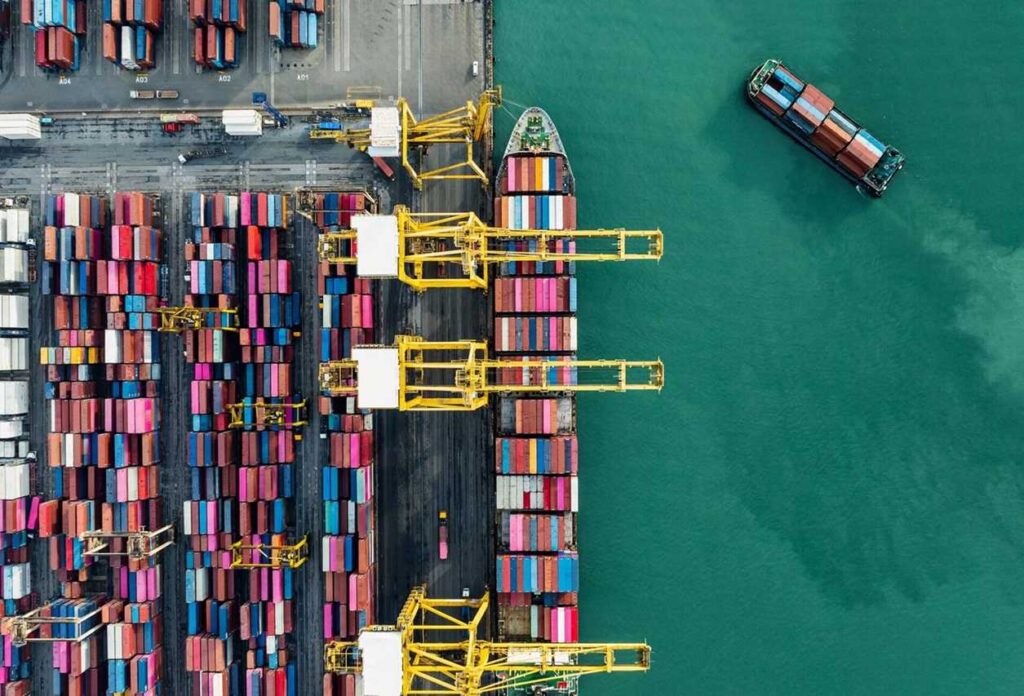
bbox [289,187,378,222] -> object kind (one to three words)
container crane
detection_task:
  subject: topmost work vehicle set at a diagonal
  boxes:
[253,86,287,127]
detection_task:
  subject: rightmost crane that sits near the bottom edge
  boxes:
[317,582,653,696]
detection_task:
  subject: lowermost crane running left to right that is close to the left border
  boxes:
[0,599,108,643]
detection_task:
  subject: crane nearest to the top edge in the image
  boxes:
[310,81,503,193]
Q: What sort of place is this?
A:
port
